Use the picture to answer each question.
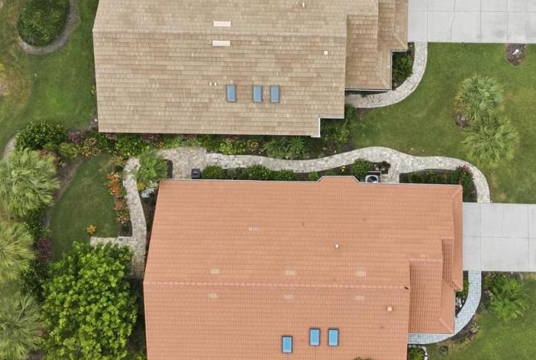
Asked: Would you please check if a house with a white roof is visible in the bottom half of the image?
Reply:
No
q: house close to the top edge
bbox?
[93,0,408,137]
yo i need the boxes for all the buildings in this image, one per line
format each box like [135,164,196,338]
[143,175,463,360]
[93,0,408,137]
